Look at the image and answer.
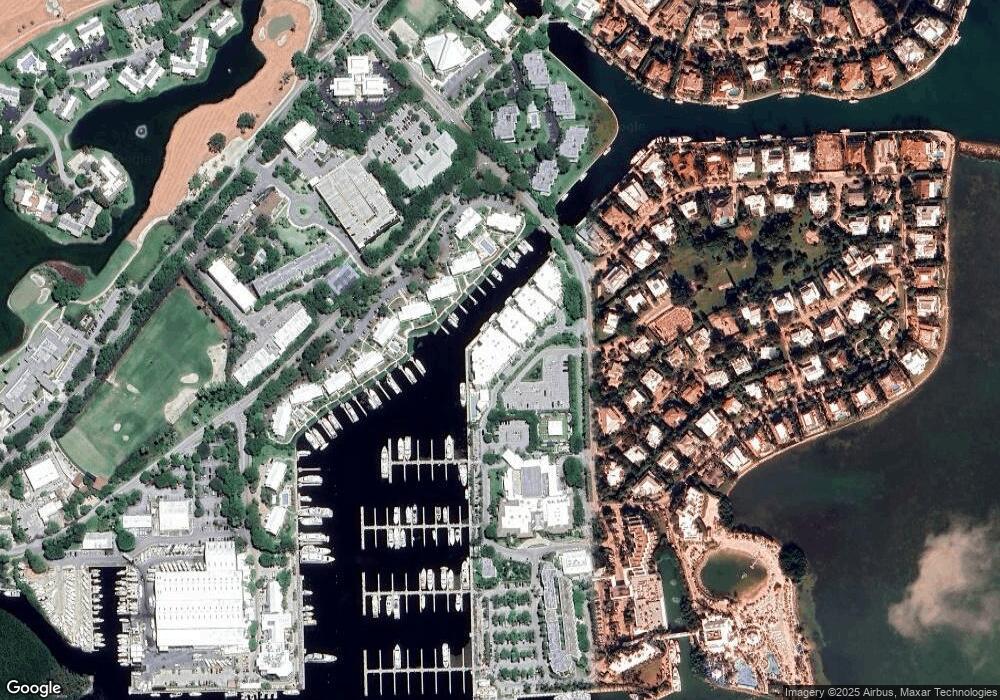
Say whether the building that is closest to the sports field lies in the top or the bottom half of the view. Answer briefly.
top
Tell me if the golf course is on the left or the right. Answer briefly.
left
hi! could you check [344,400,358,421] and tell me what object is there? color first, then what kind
white boat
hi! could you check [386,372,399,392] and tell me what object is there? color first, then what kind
white boat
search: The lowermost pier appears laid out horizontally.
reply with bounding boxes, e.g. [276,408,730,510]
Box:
[364,648,475,696]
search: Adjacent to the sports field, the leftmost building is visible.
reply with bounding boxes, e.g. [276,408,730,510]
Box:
[386,17,419,49]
